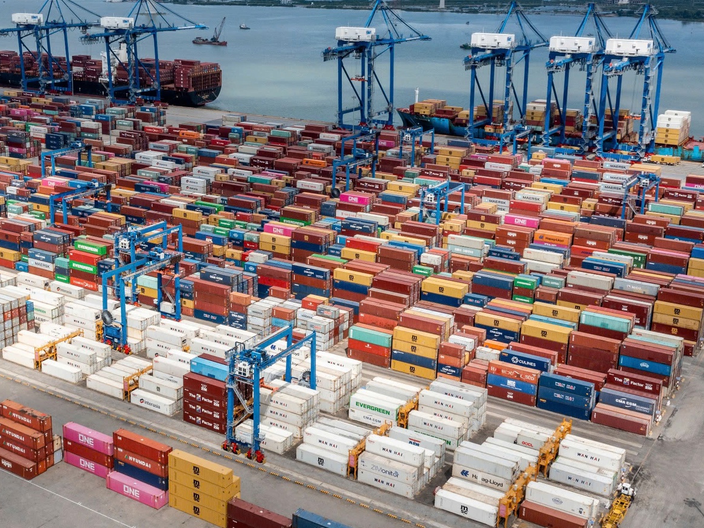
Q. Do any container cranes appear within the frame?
Yes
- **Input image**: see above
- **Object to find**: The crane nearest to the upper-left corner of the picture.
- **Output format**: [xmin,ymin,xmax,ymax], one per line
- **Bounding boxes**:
[0,0,101,95]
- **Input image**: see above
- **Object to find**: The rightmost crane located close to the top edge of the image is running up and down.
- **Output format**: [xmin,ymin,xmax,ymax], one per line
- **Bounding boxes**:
[592,1,680,167]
